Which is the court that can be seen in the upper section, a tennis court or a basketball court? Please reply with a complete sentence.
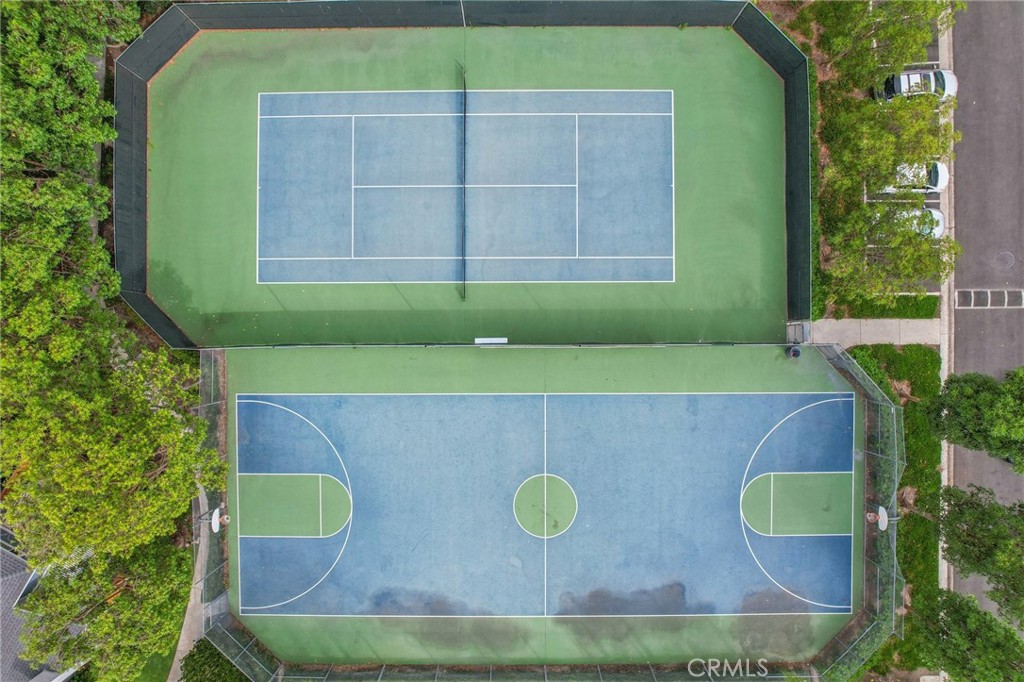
In the photo, the court that can be seen in the upper section shows up as a tennis court.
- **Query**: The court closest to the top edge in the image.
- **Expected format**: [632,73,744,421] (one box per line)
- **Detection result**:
[147,26,787,347]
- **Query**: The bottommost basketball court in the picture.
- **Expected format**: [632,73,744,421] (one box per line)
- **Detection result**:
[228,348,864,665]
